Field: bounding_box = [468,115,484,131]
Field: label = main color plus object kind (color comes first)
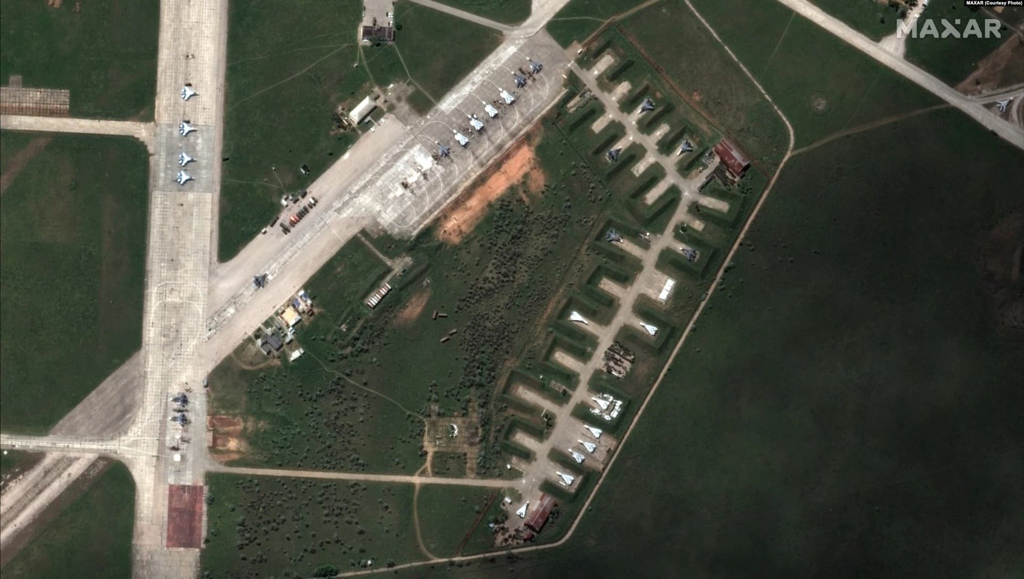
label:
white airplane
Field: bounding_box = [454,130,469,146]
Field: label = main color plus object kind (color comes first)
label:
white airplane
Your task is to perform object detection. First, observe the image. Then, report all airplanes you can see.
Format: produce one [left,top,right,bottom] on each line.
[569,450,585,464]
[579,441,596,454]
[438,143,453,157]
[499,89,515,104]
[516,502,528,520]
[179,123,196,136]
[513,73,529,87]
[170,413,187,426]
[171,393,188,407]
[606,229,622,242]
[181,87,197,100]
[640,323,659,335]
[252,273,267,288]
[677,140,692,156]
[528,58,544,73]
[454,130,469,146]
[639,98,655,112]
[569,311,587,323]
[606,146,622,161]
[556,472,575,485]
[176,171,193,184]
[592,398,610,410]
[997,98,1011,108]
[482,101,498,118]
[179,152,197,165]
[468,115,484,131]
[680,248,698,260]
[585,426,603,439]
